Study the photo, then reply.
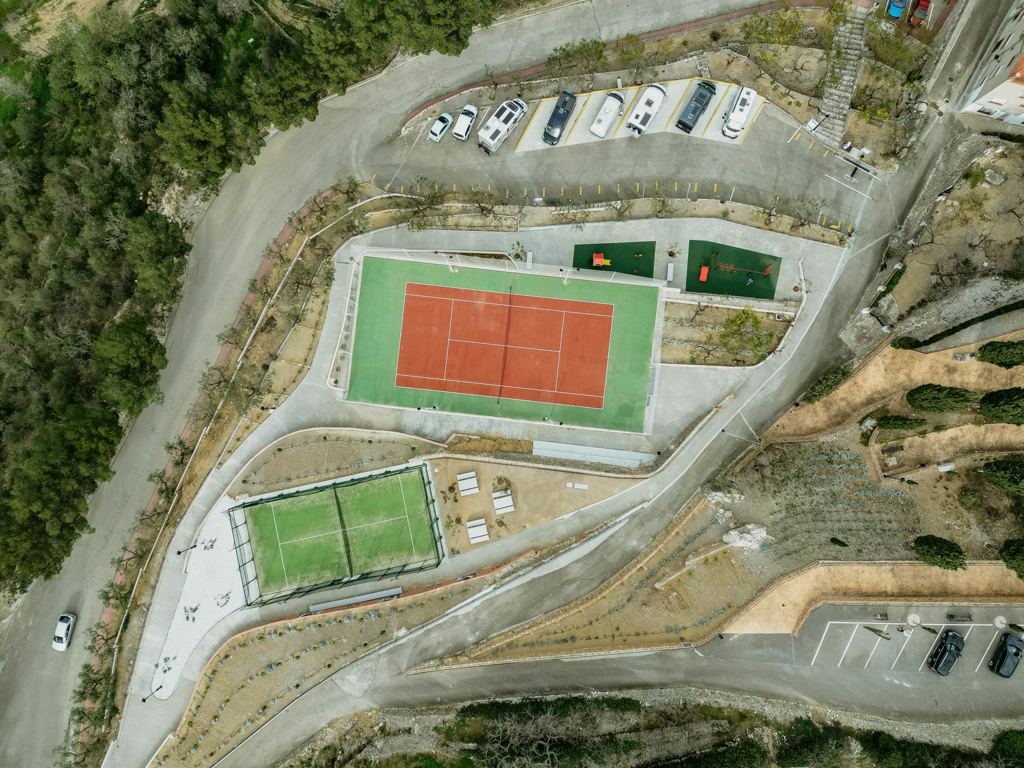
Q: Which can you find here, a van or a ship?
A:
van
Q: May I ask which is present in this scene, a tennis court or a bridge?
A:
tennis court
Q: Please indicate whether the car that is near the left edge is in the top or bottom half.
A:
bottom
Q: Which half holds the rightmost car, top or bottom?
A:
bottom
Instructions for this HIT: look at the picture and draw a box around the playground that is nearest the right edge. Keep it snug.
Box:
[686,240,782,300]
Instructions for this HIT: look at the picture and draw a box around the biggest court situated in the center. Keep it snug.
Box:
[348,259,658,431]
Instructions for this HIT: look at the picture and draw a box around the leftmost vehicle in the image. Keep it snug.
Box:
[50,612,78,652]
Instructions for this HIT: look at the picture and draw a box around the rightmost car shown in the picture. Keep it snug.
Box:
[990,633,1024,680]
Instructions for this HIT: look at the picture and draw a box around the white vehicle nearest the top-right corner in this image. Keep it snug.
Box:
[722,86,756,141]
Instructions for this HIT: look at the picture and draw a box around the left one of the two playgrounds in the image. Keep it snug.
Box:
[573,241,656,279]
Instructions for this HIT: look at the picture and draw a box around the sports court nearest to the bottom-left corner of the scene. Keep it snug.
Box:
[229,463,445,608]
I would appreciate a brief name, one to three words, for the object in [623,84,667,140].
camper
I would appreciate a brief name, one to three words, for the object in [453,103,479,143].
car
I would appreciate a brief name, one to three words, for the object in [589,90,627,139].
van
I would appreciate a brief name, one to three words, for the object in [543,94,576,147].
van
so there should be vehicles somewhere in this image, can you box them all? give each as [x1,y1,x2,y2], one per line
[589,90,627,139]
[429,112,454,143]
[990,633,1024,680]
[930,631,966,678]
[886,0,911,21]
[453,103,479,143]
[543,94,576,147]
[478,97,529,152]
[676,79,717,134]
[50,612,78,652]
[623,84,667,140]
[722,86,756,141]
[907,0,935,27]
